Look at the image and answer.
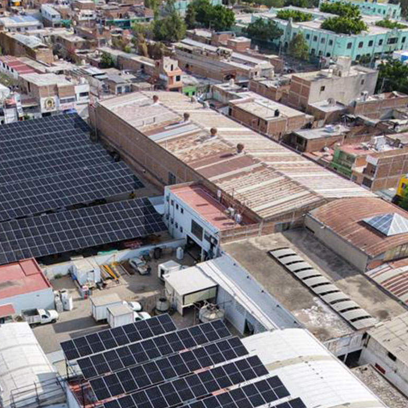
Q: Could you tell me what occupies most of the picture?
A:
buildings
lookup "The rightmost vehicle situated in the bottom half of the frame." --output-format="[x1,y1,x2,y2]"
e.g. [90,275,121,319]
[161,254,197,275]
